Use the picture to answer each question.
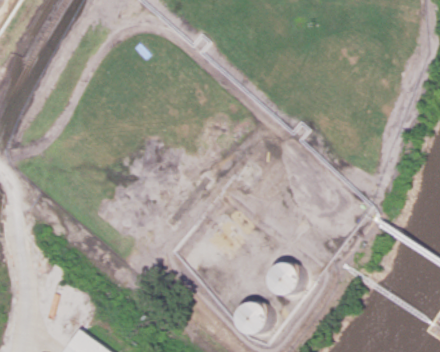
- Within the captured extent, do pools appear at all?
No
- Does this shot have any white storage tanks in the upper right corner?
No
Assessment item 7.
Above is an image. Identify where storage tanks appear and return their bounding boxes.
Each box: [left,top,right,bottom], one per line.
[234,297,278,336]
[266,258,310,298]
